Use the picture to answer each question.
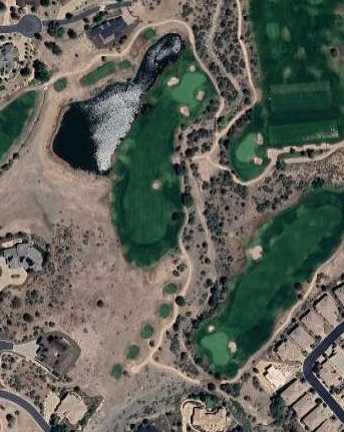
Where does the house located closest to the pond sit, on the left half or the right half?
left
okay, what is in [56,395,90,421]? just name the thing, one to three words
house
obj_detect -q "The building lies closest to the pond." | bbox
[88,8,129,48]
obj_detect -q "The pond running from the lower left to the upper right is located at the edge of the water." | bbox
[53,33,184,175]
